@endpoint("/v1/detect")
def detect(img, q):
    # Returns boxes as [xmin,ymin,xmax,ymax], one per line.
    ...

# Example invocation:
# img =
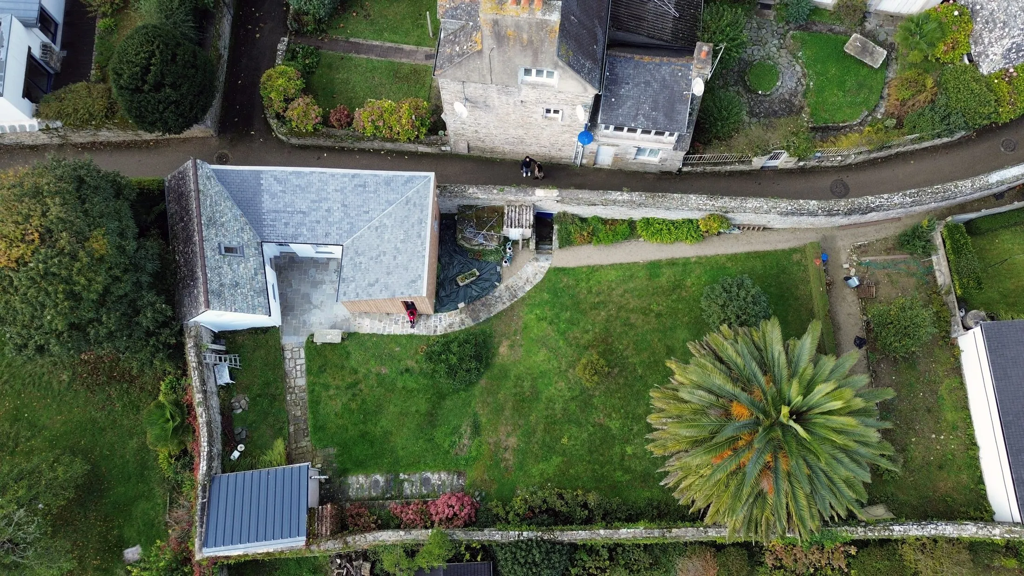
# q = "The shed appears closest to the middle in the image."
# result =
[504,204,534,250]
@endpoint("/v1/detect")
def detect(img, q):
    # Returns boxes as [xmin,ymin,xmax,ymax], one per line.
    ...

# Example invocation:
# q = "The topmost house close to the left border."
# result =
[0,0,87,136]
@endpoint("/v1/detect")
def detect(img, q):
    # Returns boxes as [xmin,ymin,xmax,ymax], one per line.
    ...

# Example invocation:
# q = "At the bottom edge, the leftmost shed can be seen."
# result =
[202,462,320,557]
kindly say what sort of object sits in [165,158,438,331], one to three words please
house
